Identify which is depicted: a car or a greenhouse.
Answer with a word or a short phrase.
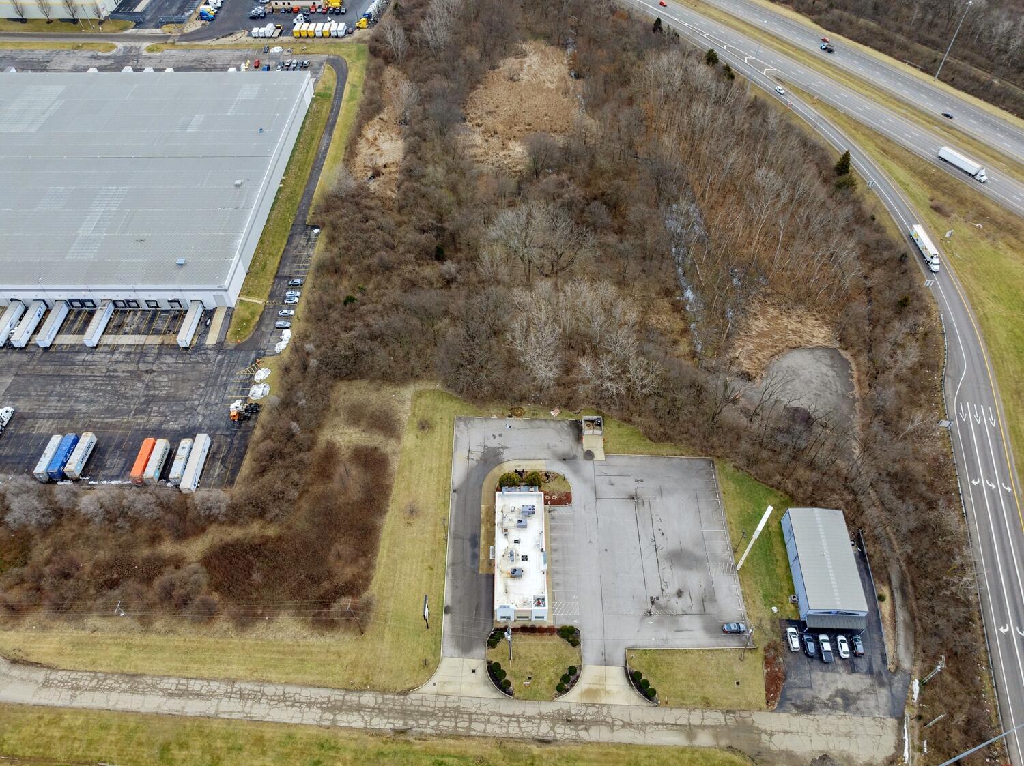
car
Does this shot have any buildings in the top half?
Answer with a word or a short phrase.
Yes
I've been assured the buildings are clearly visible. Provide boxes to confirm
[783,507,869,637]
[270,0,324,8]
[0,0,117,18]
[491,484,552,622]
[0,74,313,308]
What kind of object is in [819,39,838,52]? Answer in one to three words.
vehicle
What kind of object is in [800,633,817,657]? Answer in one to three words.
car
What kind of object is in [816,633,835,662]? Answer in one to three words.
vehicle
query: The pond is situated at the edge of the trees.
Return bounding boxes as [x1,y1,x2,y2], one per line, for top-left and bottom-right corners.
[736,347,857,458]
